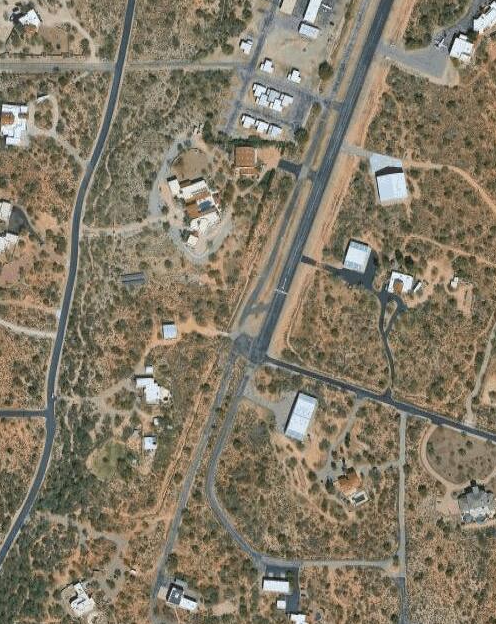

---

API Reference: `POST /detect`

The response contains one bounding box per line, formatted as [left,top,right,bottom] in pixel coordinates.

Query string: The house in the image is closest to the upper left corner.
[19,9,41,34]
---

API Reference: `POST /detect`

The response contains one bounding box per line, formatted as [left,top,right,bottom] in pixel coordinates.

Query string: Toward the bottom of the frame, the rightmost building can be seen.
[460,486,495,514]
